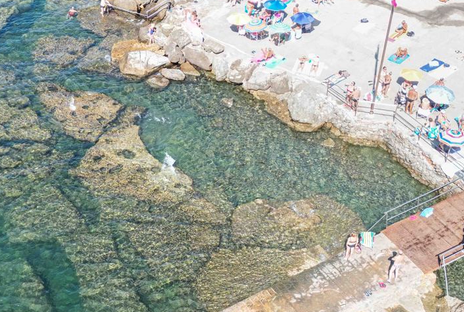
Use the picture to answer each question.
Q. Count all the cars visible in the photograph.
0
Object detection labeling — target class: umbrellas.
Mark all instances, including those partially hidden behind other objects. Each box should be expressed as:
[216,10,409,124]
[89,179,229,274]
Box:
[269,22,291,49]
[426,85,455,118]
[228,12,251,31]
[291,12,314,40]
[400,69,423,98]
[437,128,464,161]
[264,0,288,23]
[245,20,267,44]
